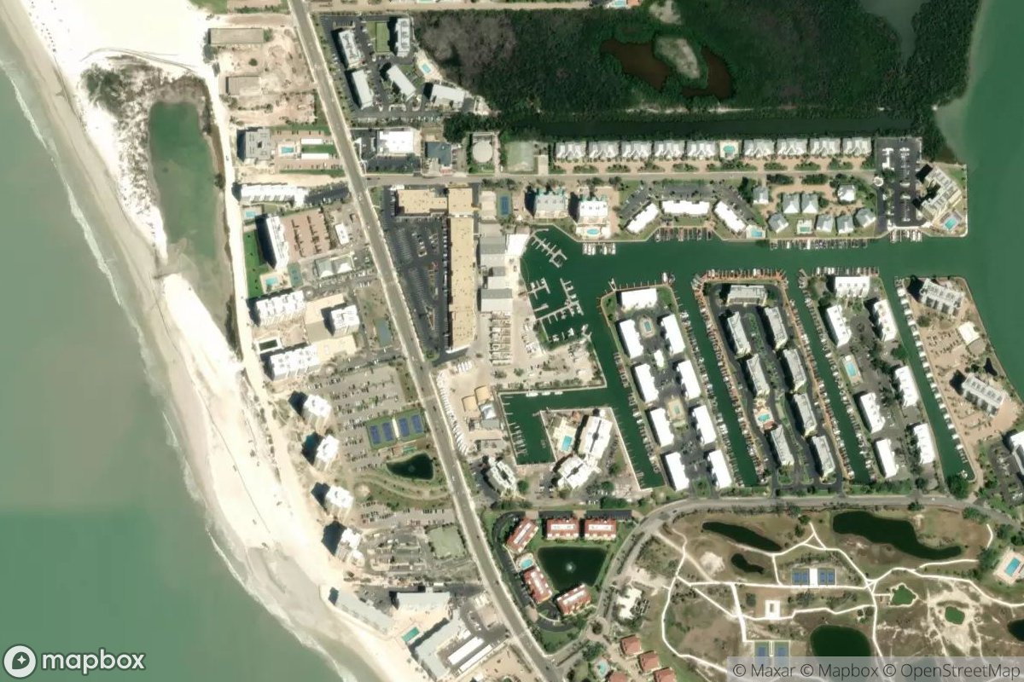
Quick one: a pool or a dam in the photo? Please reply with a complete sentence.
It is a pool that can be seen here.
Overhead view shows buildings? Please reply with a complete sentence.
Yes, you can see a building in this photo.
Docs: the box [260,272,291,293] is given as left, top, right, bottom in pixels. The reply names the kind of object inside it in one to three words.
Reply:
swimming pool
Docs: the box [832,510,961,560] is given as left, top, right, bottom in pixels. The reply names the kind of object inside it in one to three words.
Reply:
pond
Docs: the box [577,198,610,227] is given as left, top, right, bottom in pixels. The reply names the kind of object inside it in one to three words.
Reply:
building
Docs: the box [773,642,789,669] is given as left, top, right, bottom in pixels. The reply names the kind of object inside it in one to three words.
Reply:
tennis court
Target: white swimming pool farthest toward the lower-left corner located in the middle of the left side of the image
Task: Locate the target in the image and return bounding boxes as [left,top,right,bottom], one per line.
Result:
[255,334,282,354]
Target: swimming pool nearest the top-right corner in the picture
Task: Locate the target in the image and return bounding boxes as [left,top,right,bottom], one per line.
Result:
[940,210,962,233]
